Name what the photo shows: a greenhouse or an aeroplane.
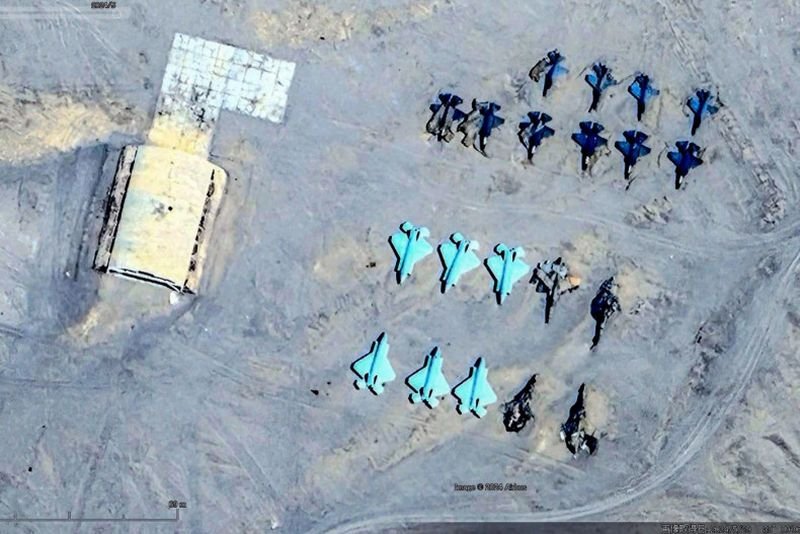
aeroplane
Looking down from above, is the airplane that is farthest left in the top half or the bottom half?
bottom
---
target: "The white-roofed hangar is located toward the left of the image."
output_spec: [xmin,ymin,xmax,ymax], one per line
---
[92,144,227,294]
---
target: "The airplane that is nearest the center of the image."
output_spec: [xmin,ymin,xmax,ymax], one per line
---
[392,221,434,282]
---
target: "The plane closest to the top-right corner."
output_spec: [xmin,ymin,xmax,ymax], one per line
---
[684,87,723,134]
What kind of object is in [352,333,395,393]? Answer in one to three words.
airplane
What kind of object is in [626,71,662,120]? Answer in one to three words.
airplane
